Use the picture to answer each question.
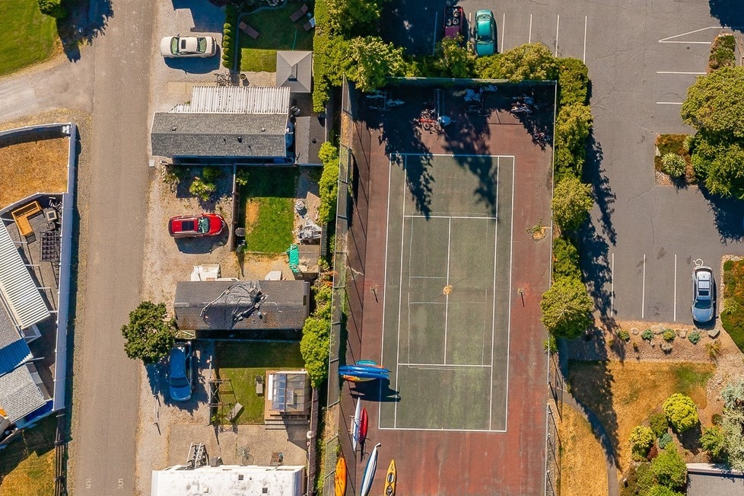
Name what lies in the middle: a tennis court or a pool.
tennis court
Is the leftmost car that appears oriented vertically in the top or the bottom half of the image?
bottom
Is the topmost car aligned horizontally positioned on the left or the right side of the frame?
left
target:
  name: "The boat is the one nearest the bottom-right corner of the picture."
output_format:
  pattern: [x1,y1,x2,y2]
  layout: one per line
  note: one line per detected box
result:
[384,457,397,496]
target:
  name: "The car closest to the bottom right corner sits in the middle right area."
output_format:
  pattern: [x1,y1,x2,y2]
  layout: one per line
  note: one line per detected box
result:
[691,264,718,324]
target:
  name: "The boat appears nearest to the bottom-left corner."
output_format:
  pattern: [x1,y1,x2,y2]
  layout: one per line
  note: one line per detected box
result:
[335,456,348,496]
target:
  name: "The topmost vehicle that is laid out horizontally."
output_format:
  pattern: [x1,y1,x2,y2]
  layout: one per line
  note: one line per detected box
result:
[164,34,221,59]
